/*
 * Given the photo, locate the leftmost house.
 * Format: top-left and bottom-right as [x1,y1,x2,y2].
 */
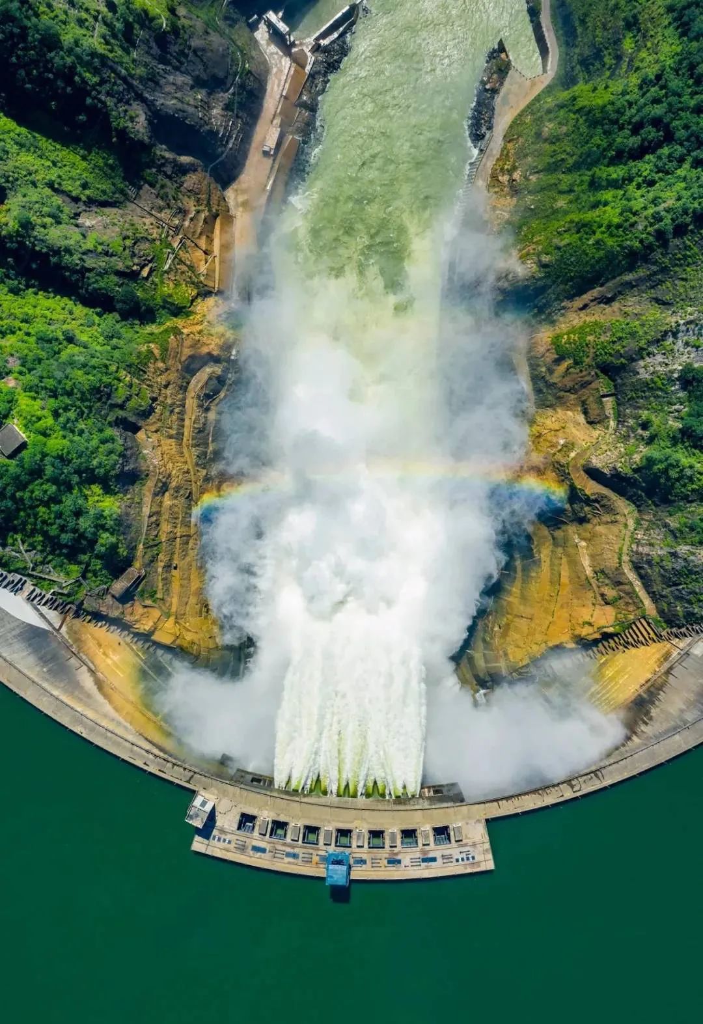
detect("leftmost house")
[0,423,35,458]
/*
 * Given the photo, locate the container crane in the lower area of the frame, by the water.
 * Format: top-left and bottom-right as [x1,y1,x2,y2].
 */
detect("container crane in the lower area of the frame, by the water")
[327,850,350,889]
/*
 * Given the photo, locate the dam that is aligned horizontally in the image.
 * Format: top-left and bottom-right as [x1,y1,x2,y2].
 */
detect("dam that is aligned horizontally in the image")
[0,584,703,881]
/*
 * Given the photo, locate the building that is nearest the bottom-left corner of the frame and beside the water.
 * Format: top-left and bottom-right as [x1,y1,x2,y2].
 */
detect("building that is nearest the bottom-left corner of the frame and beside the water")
[185,786,219,829]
